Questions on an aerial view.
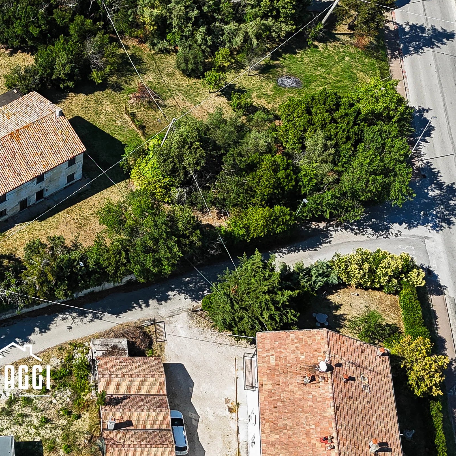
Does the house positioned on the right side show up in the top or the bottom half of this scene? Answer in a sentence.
You can find the house positioned on the right side in the bottom half.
